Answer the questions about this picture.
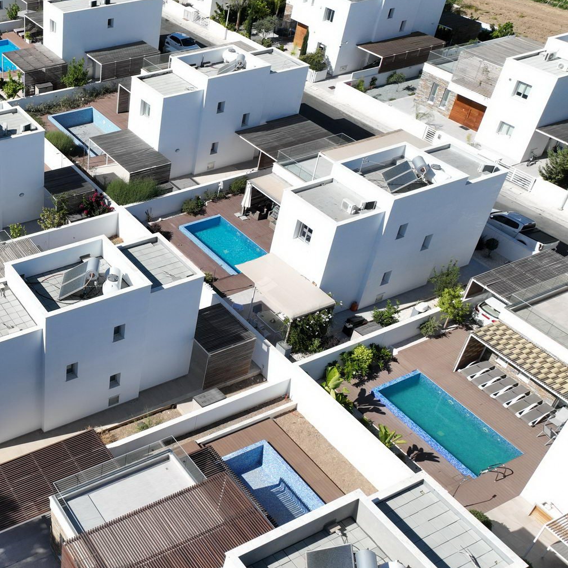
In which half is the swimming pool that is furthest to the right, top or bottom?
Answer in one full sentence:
The swimming pool that is furthest to the right sits in the bottom half of the picture.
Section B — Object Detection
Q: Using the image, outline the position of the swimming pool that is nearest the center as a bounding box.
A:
[181,214,269,270]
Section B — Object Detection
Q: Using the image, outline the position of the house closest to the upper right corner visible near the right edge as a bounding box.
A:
[422,31,568,159]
